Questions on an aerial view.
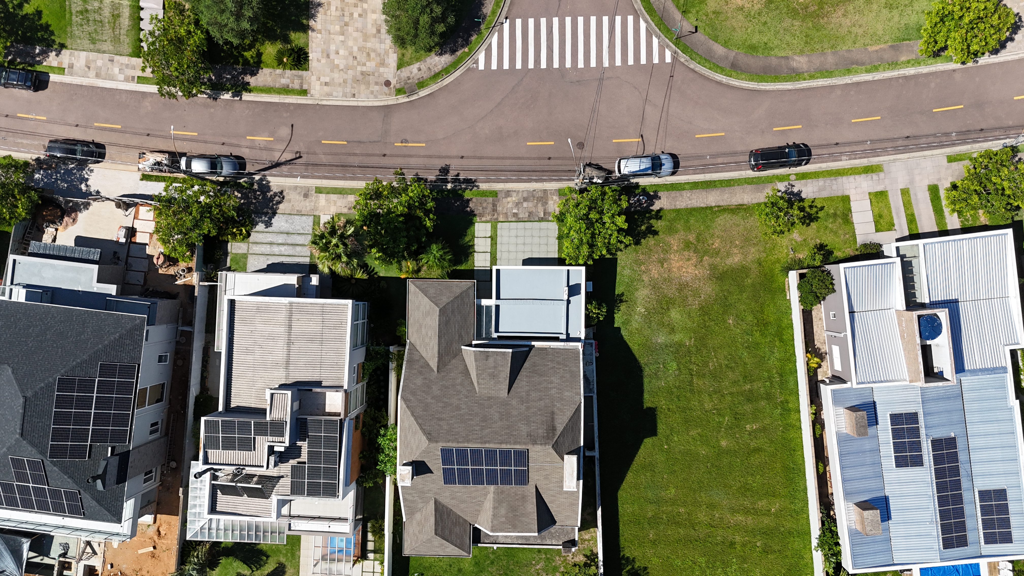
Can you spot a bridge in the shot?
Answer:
No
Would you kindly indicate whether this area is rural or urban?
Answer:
urban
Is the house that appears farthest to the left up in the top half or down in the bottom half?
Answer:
bottom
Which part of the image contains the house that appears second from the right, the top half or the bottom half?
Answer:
bottom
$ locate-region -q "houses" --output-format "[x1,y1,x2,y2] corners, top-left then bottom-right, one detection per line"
[186,273,372,544]
[0,254,183,544]
[811,228,1024,574]
[397,267,596,558]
